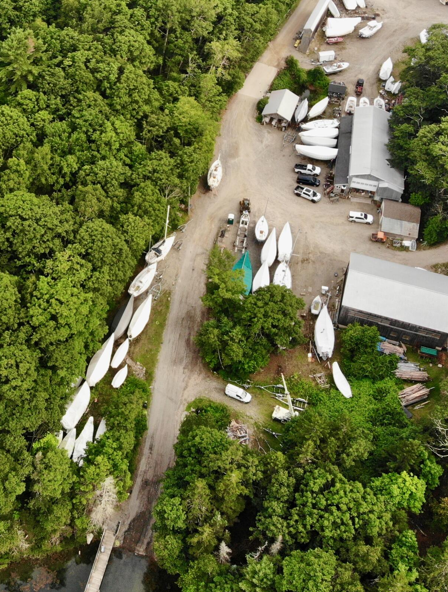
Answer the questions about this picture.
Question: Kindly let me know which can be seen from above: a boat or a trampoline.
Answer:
boat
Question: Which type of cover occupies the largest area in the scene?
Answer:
trees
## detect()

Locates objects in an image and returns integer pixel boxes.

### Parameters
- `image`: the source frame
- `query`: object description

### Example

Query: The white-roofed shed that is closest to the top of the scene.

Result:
[299,0,331,50]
